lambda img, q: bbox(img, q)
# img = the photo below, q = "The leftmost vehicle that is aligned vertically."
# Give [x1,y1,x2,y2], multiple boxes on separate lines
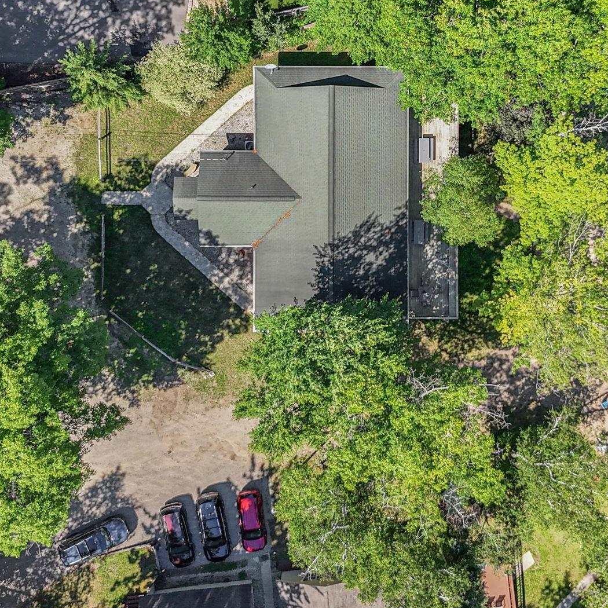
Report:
[160,497,198,570]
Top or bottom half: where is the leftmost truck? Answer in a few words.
bottom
